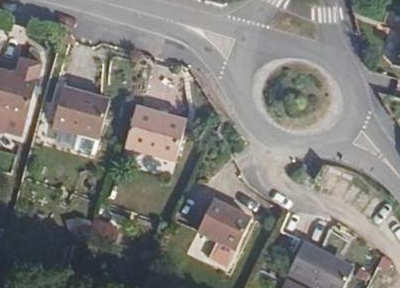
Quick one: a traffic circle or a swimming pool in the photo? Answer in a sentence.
I can see a traffic circle in this picture.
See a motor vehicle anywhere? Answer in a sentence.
Yes, there's a motor vehicle down there.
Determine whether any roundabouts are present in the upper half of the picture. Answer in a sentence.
Yes, looking in the upper half of the picture, one can make out a roundabout.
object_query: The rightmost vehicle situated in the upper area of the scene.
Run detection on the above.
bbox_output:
[56,12,77,28]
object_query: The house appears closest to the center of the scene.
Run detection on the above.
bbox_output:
[126,105,188,163]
